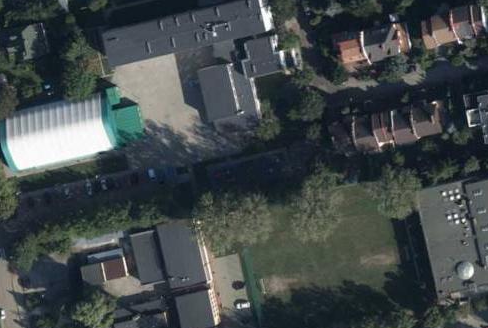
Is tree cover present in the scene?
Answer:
Yes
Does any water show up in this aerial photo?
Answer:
No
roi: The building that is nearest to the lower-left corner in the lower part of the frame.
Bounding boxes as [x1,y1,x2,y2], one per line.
[81,262,107,288]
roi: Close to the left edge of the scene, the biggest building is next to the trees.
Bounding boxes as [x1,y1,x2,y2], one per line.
[1,95,120,173]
